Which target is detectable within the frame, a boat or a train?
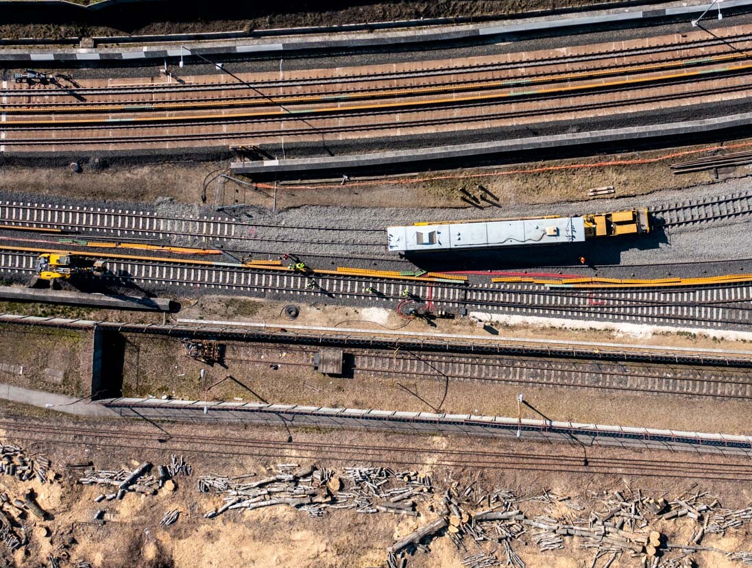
train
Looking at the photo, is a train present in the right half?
Yes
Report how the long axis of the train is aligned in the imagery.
from left to right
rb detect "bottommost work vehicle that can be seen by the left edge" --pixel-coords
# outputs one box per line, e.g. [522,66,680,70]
[29,252,105,290]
